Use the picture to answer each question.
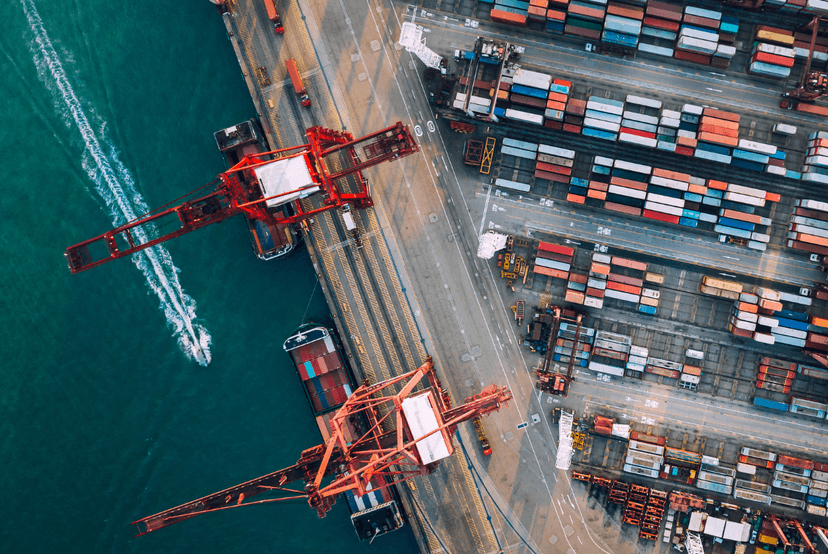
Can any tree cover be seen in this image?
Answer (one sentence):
No, the scene doesn't show any tree cover.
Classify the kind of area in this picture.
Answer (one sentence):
What you see here is a port.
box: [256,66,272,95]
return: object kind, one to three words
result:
work vehicle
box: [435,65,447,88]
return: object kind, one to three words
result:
vehicle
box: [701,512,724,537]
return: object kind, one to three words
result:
shed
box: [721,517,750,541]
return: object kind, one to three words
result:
shed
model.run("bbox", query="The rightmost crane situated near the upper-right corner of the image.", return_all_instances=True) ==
[771,14,828,116]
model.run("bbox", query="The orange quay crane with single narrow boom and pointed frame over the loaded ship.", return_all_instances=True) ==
[132,352,517,539]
